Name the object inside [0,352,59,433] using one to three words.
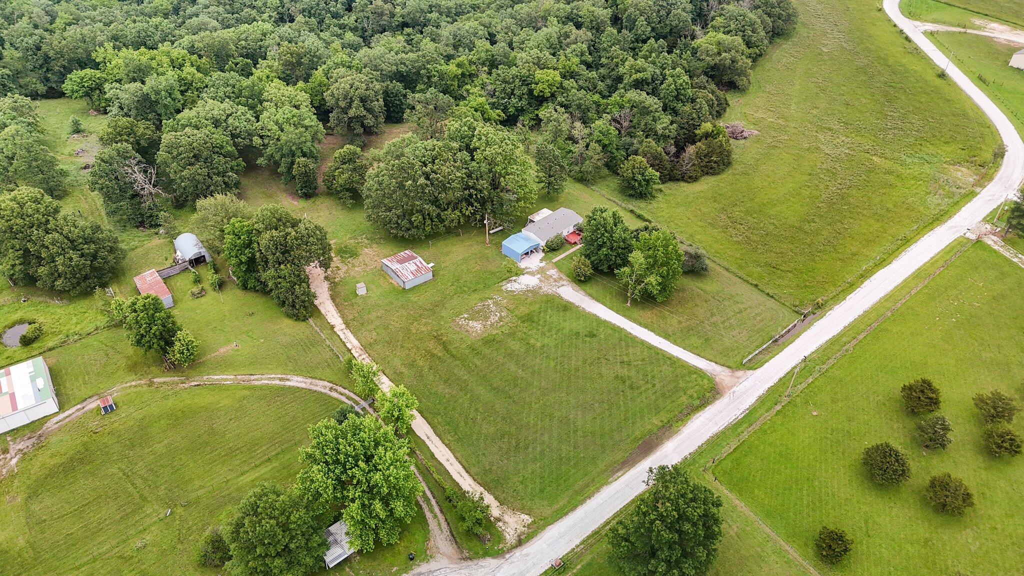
shed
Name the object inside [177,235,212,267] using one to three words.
barn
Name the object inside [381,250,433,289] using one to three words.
shed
